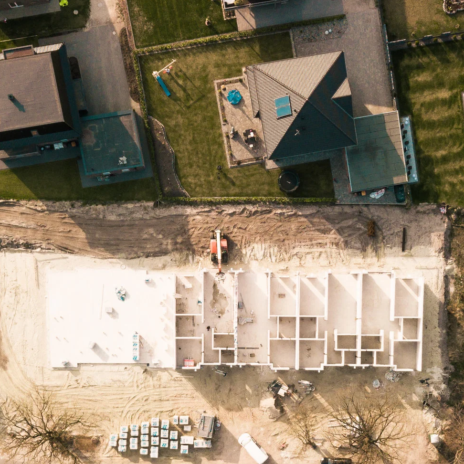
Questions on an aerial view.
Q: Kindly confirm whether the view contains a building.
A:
Yes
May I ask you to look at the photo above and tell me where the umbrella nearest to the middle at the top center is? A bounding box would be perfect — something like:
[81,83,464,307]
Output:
[226,86,241,103]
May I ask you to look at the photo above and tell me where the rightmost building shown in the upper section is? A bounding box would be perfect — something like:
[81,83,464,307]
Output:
[345,111,407,192]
